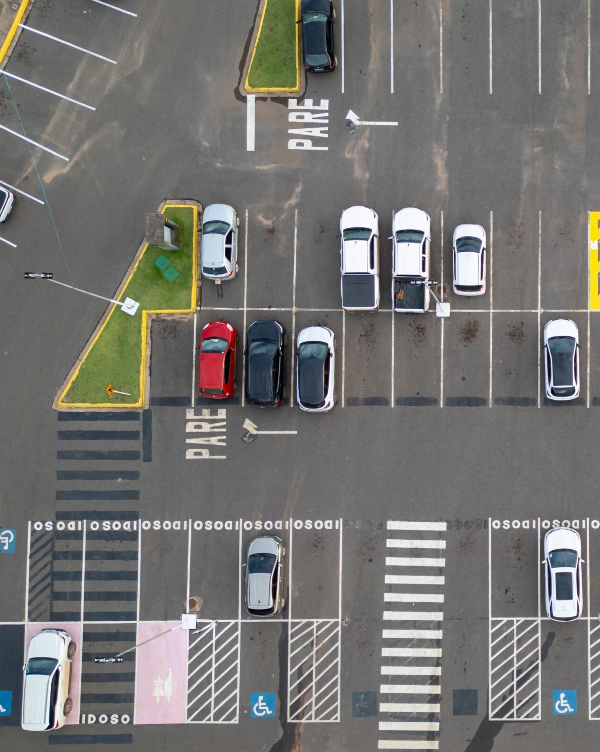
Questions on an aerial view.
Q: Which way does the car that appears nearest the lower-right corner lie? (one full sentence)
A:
I'd say the car that appears nearest the lower-right corner is aligned from top to bottom in the picture.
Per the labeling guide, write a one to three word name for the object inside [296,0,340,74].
car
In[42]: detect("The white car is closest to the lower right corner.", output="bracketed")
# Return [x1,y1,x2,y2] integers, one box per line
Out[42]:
[541,527,586,621]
